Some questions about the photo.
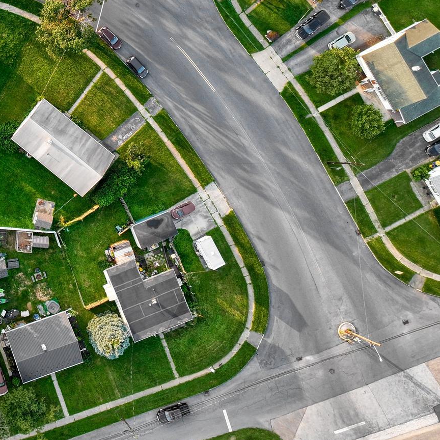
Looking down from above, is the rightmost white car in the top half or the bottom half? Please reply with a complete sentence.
The rightmost white car is in the top half of the image.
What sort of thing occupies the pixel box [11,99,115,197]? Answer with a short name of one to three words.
house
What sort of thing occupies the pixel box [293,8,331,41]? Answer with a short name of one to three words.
truck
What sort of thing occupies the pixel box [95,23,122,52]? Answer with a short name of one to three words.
car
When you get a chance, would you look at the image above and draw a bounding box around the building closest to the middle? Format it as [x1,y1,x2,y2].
[128,209,178,249]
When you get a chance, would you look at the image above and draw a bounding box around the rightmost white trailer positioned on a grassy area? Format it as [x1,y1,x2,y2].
[193,232,223,269]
